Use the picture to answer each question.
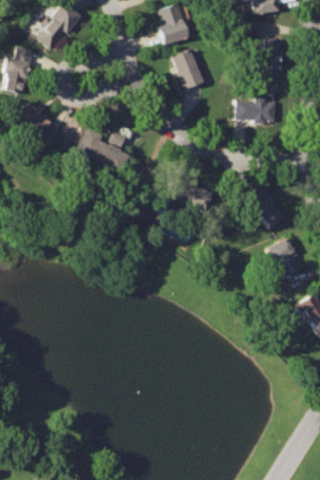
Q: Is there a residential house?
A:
Yes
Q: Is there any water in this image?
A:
Yes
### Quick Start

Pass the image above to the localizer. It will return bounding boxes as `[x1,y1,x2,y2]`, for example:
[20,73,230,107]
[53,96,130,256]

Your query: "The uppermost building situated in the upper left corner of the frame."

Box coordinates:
[30,6,76,52]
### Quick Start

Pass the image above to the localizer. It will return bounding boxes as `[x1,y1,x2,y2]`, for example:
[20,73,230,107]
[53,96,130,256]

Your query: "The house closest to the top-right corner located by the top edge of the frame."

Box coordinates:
[249,0,278,18]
